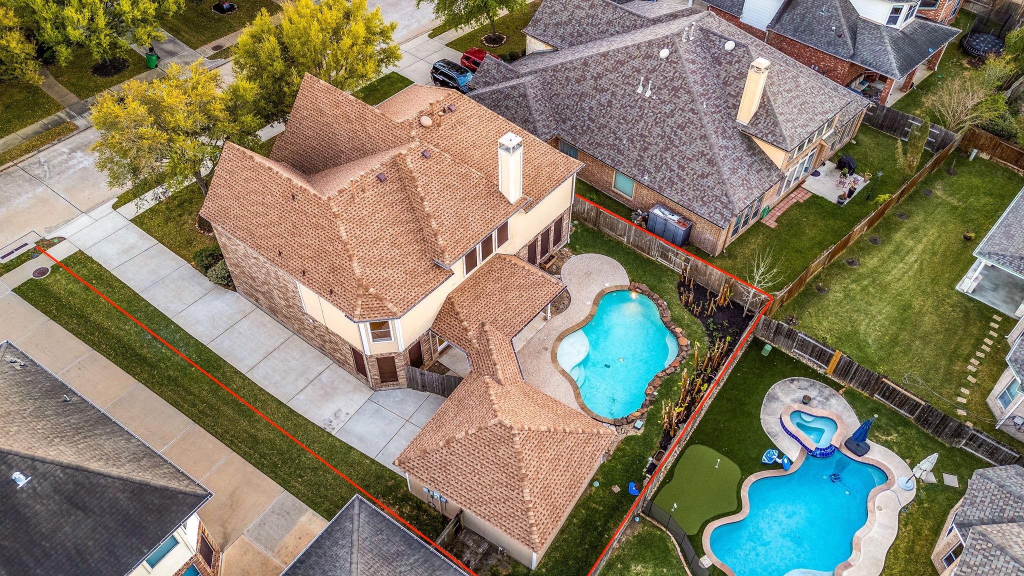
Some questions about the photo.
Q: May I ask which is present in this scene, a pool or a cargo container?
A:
pool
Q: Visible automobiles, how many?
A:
2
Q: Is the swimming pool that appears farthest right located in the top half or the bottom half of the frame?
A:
bottom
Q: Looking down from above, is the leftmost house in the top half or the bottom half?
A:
bottom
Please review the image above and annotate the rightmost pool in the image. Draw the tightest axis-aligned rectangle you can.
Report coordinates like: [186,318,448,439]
[703,404,895,576]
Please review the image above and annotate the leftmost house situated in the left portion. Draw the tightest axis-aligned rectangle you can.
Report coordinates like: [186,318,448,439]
[0,340,224,576]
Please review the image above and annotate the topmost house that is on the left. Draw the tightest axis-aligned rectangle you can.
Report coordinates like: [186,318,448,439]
[198,72,587,392]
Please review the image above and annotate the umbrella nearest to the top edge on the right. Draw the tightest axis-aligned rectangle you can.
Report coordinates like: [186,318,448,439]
[843,414,878,457]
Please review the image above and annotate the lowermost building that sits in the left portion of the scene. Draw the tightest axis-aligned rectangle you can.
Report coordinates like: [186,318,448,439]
[276,490,477,576]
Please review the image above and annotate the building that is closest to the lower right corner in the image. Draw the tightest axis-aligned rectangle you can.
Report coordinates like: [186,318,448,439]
[932,467,1024,576]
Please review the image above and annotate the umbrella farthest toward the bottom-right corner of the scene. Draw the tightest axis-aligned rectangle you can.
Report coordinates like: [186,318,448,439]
[894,454,932,492]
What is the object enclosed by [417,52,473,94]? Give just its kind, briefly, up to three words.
car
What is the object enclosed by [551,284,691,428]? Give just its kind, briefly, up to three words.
swimming pool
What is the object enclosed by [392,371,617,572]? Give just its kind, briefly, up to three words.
building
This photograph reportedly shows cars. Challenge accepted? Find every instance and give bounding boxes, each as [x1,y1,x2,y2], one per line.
[417,52,473,94]
[453,44,488,75]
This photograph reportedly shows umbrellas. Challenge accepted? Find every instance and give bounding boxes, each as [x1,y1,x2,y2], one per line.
[894,454,932,492]
[843,414,878,457]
